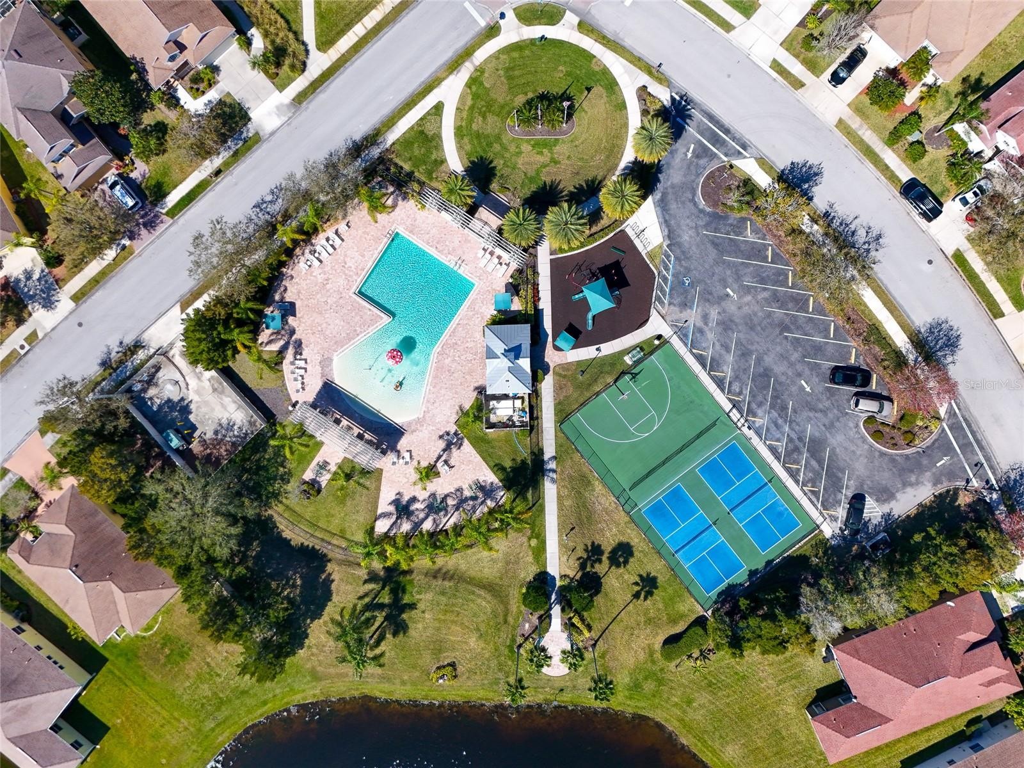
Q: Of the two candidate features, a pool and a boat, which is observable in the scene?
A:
pool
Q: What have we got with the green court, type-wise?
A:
basketball court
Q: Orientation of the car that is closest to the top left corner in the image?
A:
at an angle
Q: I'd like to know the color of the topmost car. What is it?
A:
black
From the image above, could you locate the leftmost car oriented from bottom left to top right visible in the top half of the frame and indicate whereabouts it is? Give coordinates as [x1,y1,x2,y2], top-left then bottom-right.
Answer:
[827,43,868,89]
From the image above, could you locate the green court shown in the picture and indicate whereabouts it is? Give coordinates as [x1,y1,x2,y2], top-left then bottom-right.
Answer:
[556,344,817,615]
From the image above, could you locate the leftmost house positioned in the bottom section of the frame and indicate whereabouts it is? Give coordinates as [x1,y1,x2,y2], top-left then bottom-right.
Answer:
[0,604,93,768]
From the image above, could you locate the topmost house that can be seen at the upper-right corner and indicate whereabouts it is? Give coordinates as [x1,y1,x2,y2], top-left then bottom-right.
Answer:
[858,0,1024,84]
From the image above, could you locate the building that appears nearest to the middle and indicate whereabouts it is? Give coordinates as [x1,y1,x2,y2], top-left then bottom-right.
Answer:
[485,324,532,394]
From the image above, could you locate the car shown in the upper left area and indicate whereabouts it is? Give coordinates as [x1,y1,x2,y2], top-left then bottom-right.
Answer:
[108,174,143,213]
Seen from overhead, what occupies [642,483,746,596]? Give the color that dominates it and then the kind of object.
blue sports court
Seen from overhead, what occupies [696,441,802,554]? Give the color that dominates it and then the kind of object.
blue sports court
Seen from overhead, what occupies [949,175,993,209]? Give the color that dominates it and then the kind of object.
white car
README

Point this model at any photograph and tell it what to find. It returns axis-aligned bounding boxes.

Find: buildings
[858,0,1024,84]
[80,0,239,93]
[967,70,1024,183]
[7,484,182,645]
[937,715,1024,768]
[0,185,49,264]
[485,324,532,394]
[807,587,1023,763]
[0,0,104,166]
[0,604,93,768]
